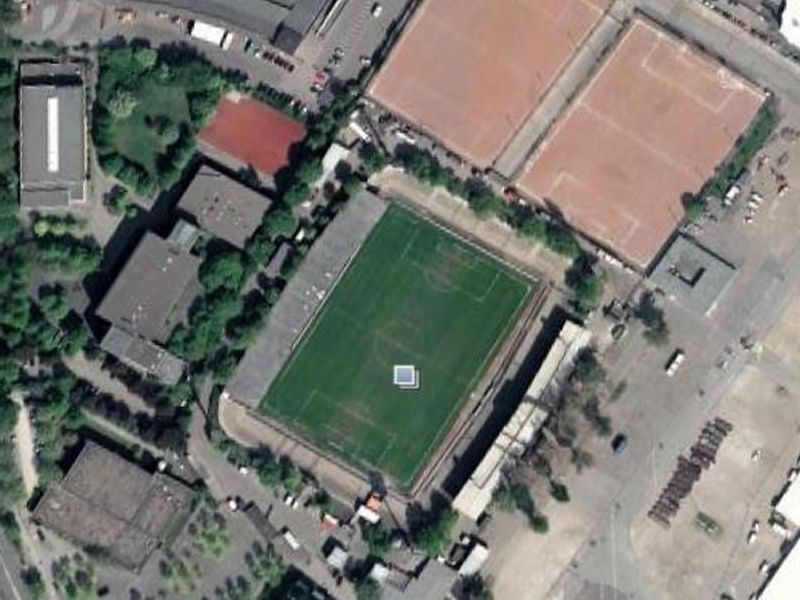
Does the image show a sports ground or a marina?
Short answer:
sports ground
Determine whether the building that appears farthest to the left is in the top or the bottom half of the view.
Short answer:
top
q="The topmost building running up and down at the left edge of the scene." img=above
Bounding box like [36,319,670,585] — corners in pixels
[20,62,89,209]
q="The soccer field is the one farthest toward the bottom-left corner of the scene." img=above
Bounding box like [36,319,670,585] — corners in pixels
[259,203,539,494]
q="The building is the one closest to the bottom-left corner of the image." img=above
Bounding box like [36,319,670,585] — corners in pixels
[32,441,198,573]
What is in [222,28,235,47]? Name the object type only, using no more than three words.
vehicle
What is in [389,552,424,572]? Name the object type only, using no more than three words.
house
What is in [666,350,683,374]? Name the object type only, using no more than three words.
vehicle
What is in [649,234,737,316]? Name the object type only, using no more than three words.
building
